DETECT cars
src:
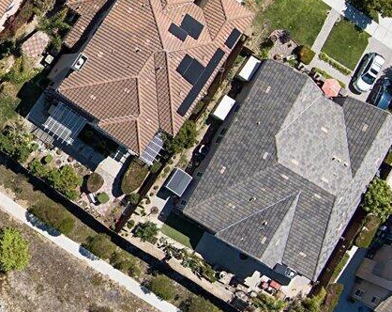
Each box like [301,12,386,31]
[350,46,391,95]
[364,68,392,109]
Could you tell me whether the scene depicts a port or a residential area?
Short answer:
residential area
